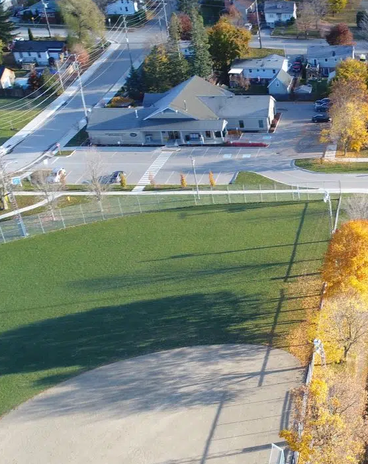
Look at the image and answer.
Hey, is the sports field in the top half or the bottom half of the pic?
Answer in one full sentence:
It is in the bottom half that the sports field appears.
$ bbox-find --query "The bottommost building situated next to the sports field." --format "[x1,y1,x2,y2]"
[80,75,281,153]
